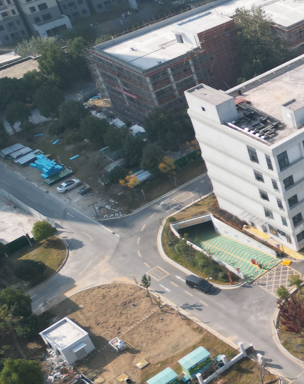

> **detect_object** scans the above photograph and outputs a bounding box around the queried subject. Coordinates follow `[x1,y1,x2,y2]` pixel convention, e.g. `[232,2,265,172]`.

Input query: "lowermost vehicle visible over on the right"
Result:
[185,271,214,294]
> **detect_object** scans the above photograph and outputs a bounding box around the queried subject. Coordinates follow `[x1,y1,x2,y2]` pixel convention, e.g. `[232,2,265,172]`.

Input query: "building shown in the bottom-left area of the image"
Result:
[41,317,94,364]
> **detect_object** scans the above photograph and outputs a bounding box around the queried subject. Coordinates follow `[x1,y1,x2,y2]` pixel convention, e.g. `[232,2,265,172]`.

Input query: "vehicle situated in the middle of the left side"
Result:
[56,180,82,194]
